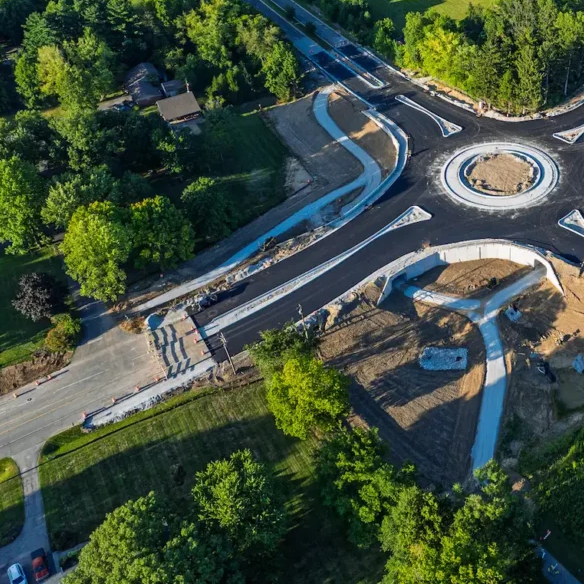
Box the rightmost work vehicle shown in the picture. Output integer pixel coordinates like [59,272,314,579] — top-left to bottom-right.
[533,357,557,381]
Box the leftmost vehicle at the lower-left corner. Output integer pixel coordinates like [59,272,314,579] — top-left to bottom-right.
[3,554,26,584]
